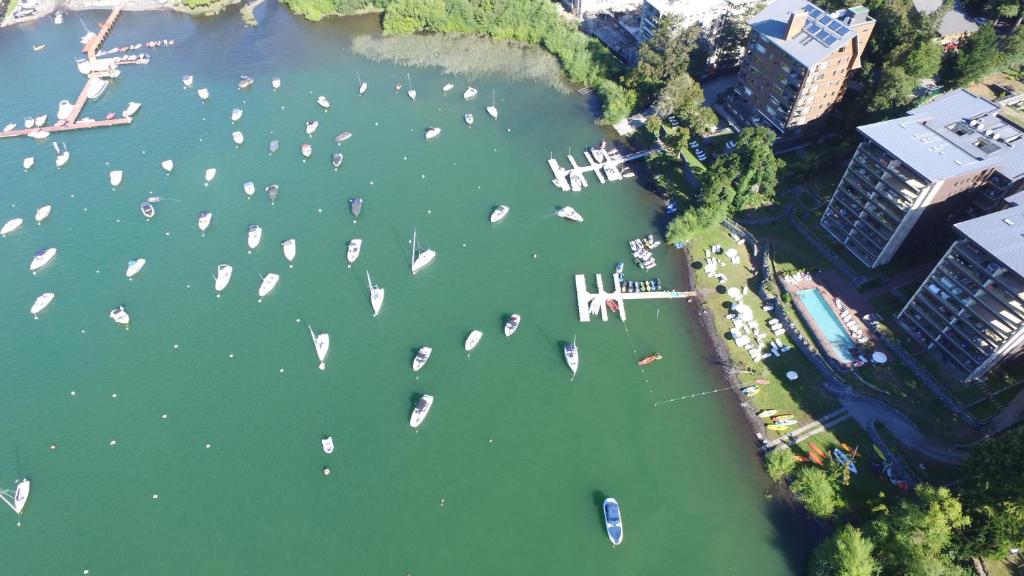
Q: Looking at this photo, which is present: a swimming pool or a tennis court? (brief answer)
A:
swimming pool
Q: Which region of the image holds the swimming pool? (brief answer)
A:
right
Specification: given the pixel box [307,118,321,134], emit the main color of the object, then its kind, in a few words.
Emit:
white boat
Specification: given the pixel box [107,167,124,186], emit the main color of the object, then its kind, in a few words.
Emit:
white boat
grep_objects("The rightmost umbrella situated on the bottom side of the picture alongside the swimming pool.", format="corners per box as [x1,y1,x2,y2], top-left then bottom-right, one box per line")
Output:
[869,351,885,365]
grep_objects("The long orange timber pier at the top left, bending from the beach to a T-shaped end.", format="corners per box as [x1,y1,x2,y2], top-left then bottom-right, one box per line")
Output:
[0,4,150,140]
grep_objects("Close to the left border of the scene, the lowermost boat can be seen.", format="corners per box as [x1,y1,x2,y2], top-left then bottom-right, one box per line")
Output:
[0,478,33,512]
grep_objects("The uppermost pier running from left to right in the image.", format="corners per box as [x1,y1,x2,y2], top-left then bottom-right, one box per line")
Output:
[548,144,653,193]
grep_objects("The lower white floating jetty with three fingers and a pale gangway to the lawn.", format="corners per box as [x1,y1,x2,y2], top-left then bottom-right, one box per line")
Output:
[575,274,694,323]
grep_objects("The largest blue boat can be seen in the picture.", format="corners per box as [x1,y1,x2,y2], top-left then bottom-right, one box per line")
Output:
[603,496,622,544]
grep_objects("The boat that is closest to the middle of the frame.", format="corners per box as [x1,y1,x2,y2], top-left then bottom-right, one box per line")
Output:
[505,309,523,335]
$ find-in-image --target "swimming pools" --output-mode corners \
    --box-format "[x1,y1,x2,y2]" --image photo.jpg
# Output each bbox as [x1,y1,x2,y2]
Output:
[780,269,874,370]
